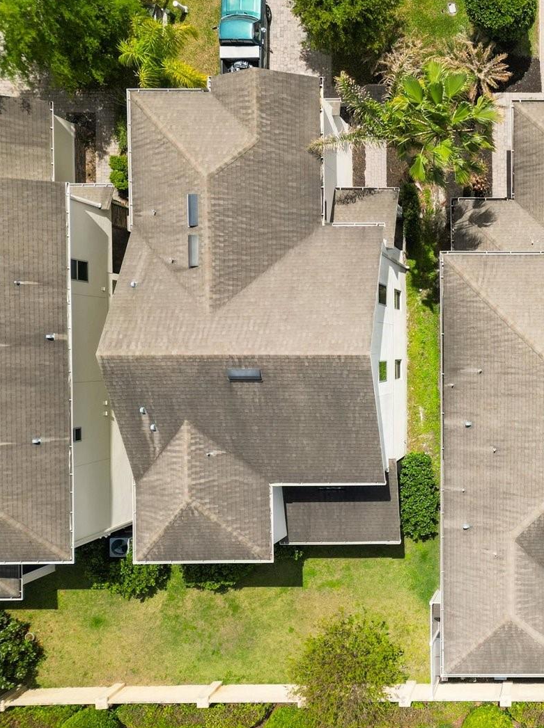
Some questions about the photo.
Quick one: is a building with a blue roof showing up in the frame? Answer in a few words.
No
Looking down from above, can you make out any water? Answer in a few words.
No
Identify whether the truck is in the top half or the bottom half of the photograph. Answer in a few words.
top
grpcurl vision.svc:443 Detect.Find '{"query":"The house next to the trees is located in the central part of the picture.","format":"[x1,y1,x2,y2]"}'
[97,70,406,565]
